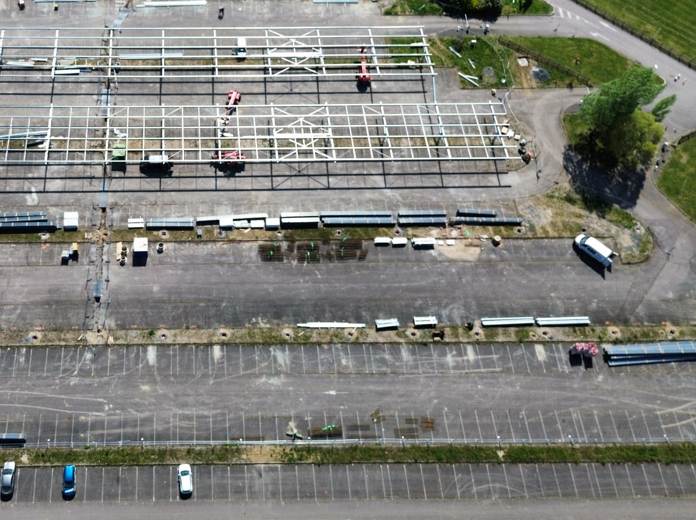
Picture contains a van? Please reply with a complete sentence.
Yes, there's a van down there.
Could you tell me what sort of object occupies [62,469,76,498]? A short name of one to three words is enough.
car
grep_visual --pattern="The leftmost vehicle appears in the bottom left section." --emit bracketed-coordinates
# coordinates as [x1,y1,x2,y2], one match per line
[1,464,16,497]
